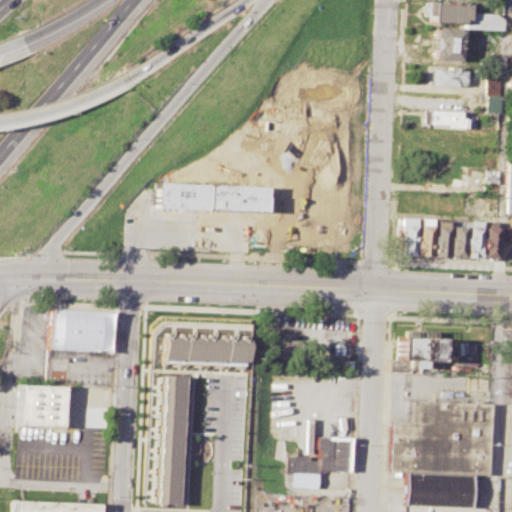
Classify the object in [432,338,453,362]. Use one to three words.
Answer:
house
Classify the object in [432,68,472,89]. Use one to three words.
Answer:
house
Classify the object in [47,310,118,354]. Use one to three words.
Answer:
building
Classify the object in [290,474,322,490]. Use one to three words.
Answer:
shed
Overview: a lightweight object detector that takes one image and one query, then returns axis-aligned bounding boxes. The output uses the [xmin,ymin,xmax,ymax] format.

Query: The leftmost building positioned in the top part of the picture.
[153,184,216,212]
